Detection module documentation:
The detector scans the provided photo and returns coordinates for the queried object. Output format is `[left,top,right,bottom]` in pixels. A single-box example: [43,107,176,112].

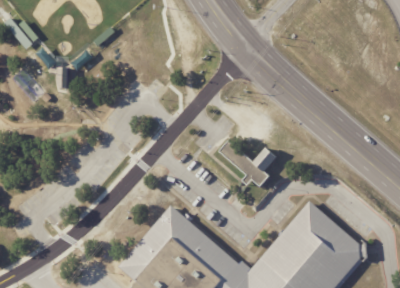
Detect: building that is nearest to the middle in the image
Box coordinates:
[219,141,276,186]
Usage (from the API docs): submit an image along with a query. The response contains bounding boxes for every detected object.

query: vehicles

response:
[180,154,190,163]
[364,135,373,143]
[217,218,226,226]
[176,180,187,190]
[220,190,228,198]
[200,171,209,181]
[204,175,214,184]
[195,168,204,178]
[208,210,216,220]
[188,162,196,170]
[192,197,201,206]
